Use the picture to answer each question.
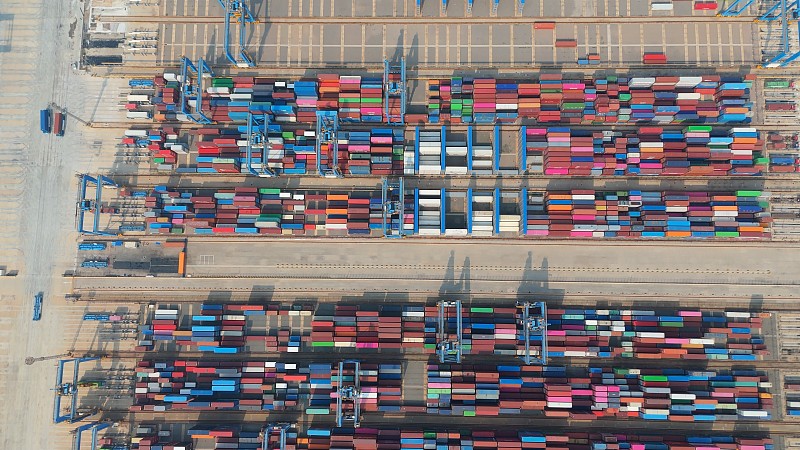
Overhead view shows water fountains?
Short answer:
No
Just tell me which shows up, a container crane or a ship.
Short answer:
container crane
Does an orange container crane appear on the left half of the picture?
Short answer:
No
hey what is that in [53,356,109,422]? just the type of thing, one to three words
container crane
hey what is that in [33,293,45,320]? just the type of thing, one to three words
vehicle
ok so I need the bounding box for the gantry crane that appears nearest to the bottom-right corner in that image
[512,301,548,366]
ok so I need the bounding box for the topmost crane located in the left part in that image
[221,0,261,67]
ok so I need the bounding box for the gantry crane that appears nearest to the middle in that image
[379,173,409,239]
